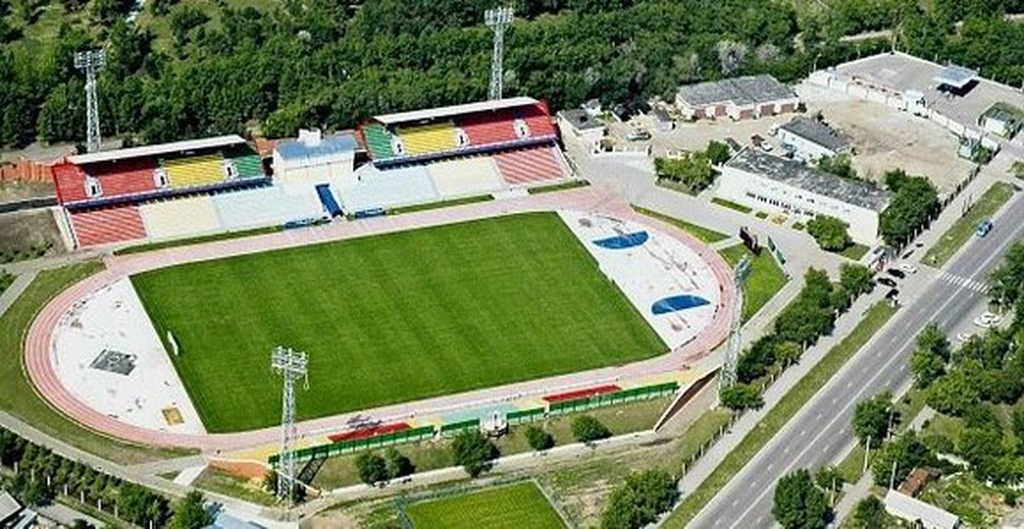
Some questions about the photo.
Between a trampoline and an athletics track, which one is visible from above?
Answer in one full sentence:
I can see an athletics track in this picture.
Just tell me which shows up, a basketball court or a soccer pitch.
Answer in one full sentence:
I can see a soccer pitch in this picture.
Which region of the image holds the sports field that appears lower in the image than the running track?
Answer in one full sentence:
The sports field that appears lower in the image than the running track is in the bottom part of the image.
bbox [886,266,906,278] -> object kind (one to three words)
vehicle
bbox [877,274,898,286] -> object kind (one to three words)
vehicle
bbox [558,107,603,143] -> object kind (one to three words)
shed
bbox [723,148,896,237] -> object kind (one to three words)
building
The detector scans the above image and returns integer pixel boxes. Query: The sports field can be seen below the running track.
[412,481,568,529]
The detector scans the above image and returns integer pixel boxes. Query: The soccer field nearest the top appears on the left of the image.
[130,211,670,432]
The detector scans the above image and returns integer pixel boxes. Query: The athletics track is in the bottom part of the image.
[22,202,745,451]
